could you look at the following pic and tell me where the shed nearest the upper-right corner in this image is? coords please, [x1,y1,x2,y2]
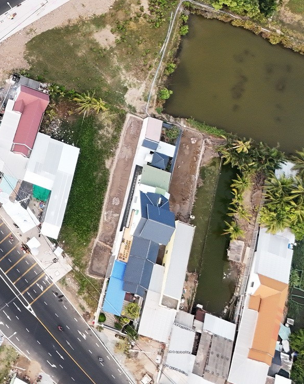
[265,162,298,180]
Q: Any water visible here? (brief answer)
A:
Yes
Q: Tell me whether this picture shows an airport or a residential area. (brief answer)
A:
residential area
